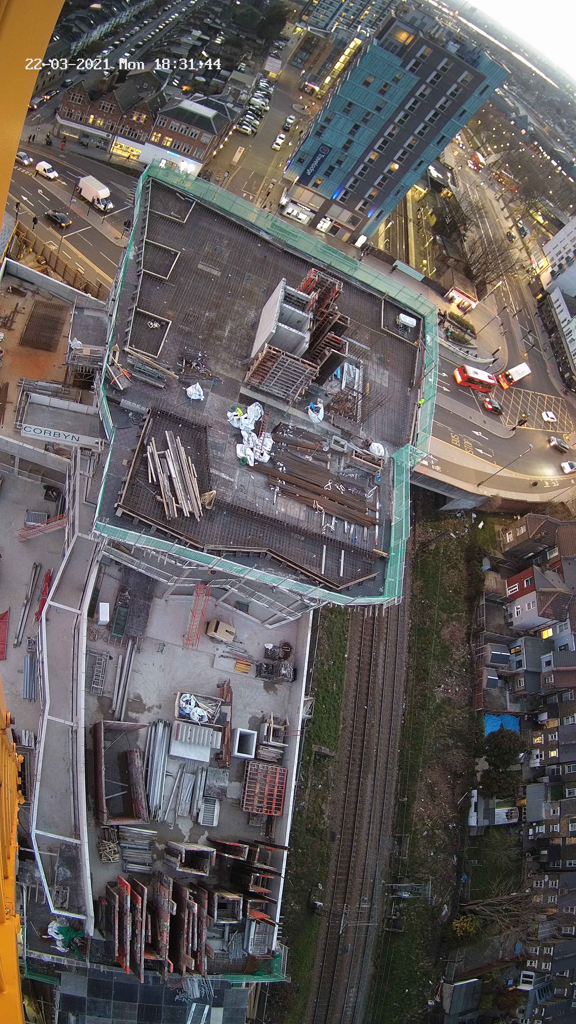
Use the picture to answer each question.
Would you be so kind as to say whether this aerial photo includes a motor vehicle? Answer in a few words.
Yes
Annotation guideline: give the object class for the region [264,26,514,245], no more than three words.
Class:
building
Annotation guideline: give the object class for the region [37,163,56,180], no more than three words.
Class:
vehicle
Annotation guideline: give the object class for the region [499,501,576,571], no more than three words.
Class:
house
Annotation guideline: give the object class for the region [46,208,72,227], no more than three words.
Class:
car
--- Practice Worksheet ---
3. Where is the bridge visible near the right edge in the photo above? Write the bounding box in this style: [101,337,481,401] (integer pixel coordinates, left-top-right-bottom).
[414,469,576,514]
